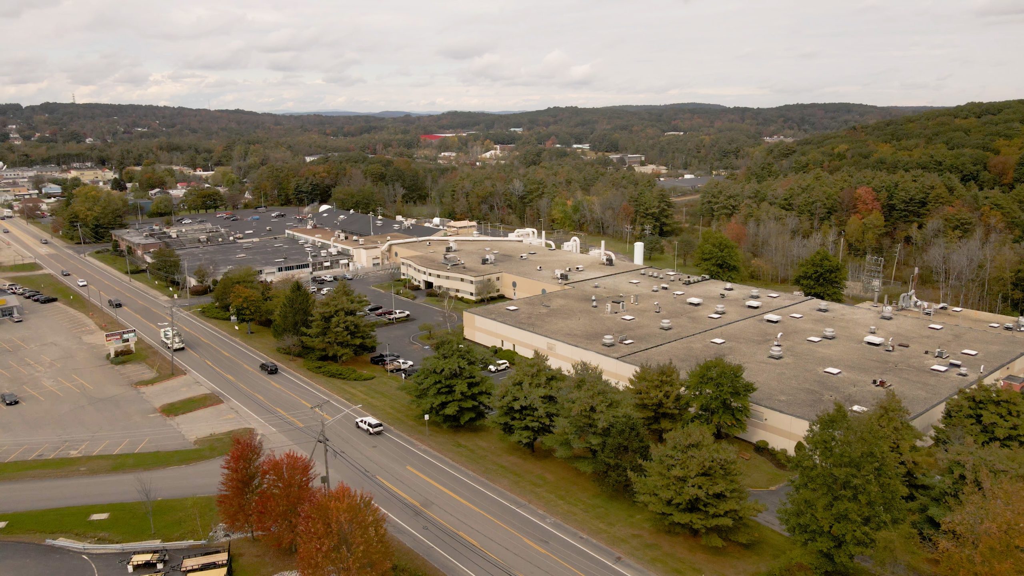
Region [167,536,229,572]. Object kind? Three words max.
trailer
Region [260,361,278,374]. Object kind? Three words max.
vehicle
